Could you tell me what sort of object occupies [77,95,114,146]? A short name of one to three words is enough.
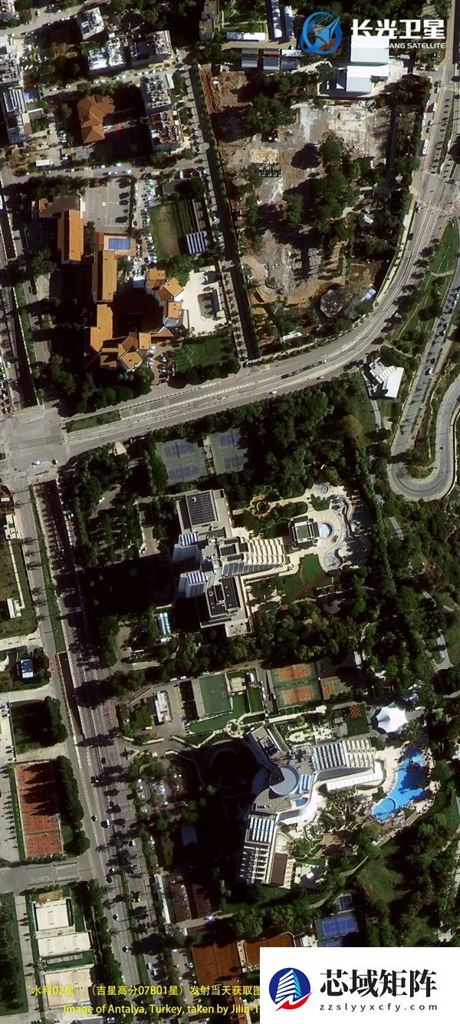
house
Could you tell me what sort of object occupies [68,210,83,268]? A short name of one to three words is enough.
building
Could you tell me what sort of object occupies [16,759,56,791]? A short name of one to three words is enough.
basketball court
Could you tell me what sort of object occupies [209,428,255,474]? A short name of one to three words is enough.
tennis court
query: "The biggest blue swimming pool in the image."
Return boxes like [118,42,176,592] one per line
[372,746,429,821]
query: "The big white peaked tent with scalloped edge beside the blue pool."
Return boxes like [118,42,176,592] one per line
[375,703,410,737]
